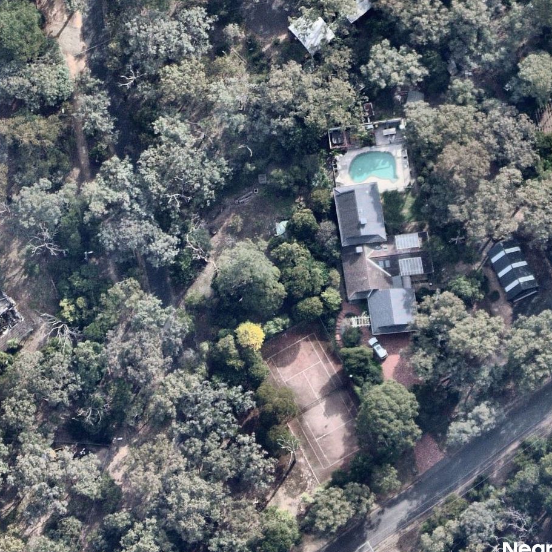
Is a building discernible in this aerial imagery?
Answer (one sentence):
Yes, the picture does show a building.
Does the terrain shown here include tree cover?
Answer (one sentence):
Yes, tree cover shows up in the scene.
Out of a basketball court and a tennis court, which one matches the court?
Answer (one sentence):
It looks like the court is a tennis court.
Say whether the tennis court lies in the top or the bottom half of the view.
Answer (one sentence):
The tennis court sits in the bottom half of the picture.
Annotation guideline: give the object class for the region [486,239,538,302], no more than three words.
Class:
barn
